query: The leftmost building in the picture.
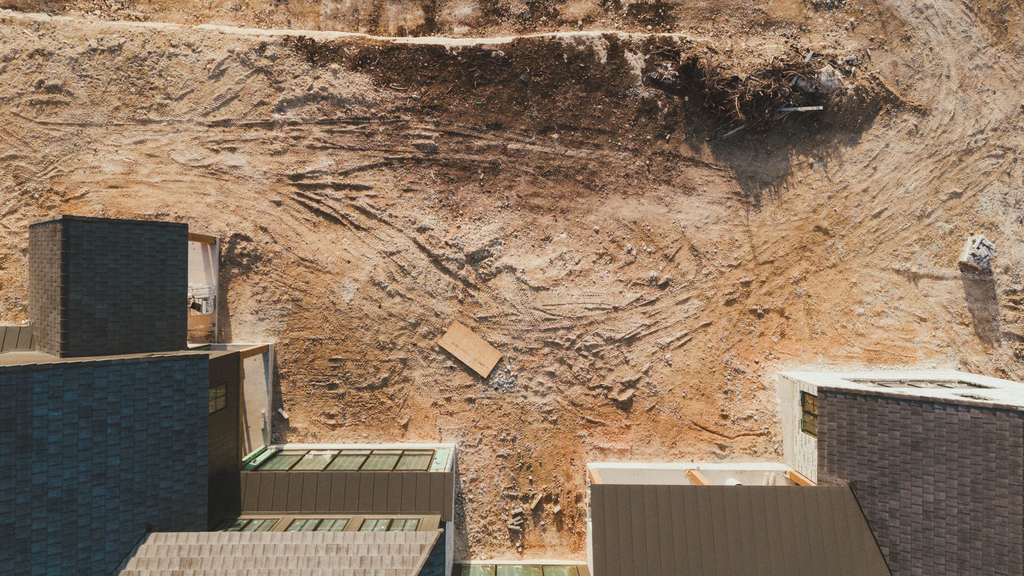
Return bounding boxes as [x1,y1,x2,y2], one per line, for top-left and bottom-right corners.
[0,213,455,576]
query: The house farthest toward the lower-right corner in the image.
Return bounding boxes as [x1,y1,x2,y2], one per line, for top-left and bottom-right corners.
[586,372,1024,576]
